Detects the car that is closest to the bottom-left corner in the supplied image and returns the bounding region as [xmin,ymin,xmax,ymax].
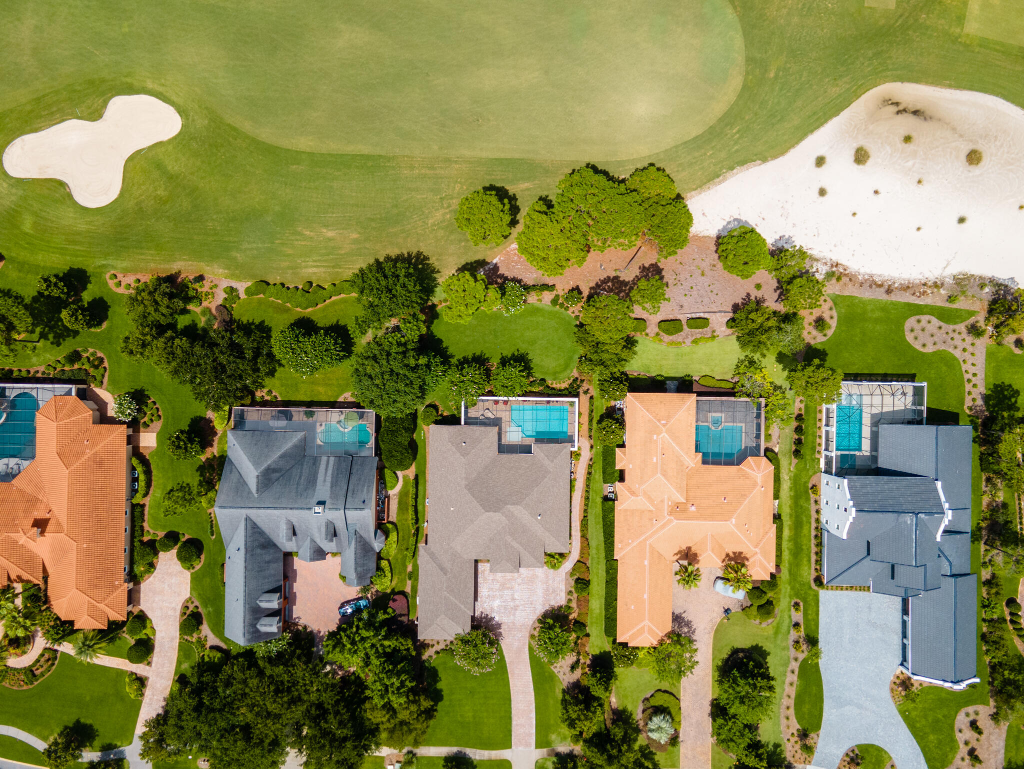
[337,597,371,617]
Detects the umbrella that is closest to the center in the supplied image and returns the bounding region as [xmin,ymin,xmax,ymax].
[344,410,360,426]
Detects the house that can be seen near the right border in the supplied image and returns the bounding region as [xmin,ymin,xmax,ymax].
[818,424,981,690]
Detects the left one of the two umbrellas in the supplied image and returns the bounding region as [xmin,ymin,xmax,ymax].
[269,411,288,429]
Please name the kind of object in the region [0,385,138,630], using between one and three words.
house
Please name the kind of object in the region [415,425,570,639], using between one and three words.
house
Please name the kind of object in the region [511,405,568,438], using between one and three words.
swimming pool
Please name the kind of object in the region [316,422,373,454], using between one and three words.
swimming pool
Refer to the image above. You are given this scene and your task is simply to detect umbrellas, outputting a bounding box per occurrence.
[269,411,288,429]
[344,410,360,426]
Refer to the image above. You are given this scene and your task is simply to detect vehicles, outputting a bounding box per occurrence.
[337,597,371,617]
[711,577,746,599]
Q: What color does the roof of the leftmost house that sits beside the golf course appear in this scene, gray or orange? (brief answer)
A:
orange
